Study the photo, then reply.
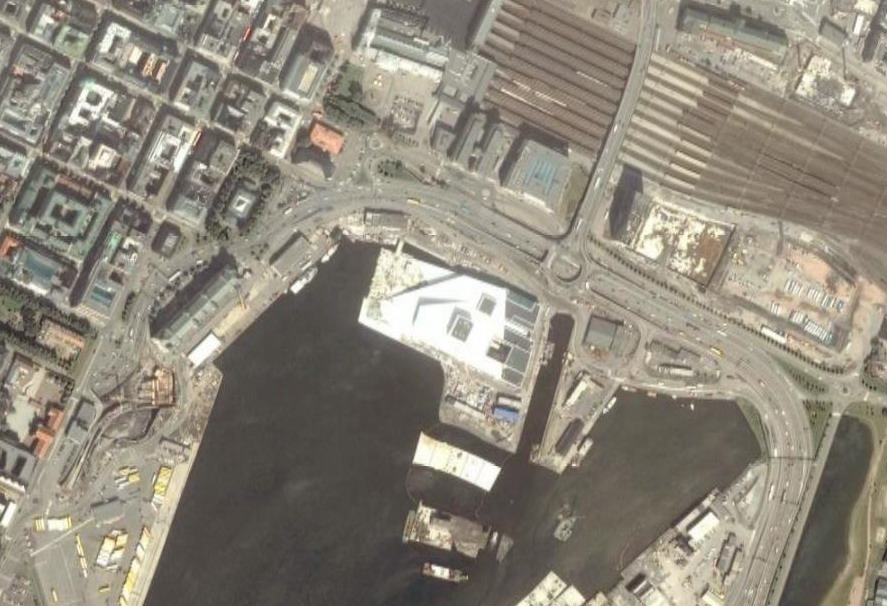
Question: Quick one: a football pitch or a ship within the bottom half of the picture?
ship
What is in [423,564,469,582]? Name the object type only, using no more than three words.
ship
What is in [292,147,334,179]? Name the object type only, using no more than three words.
building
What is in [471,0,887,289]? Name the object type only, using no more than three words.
train station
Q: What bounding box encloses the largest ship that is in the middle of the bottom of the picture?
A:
[403,500,491,558]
